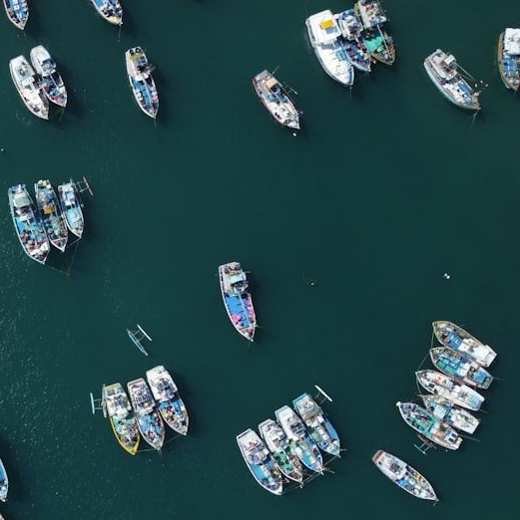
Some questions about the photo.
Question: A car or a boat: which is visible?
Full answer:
I can see a boat in this picture.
